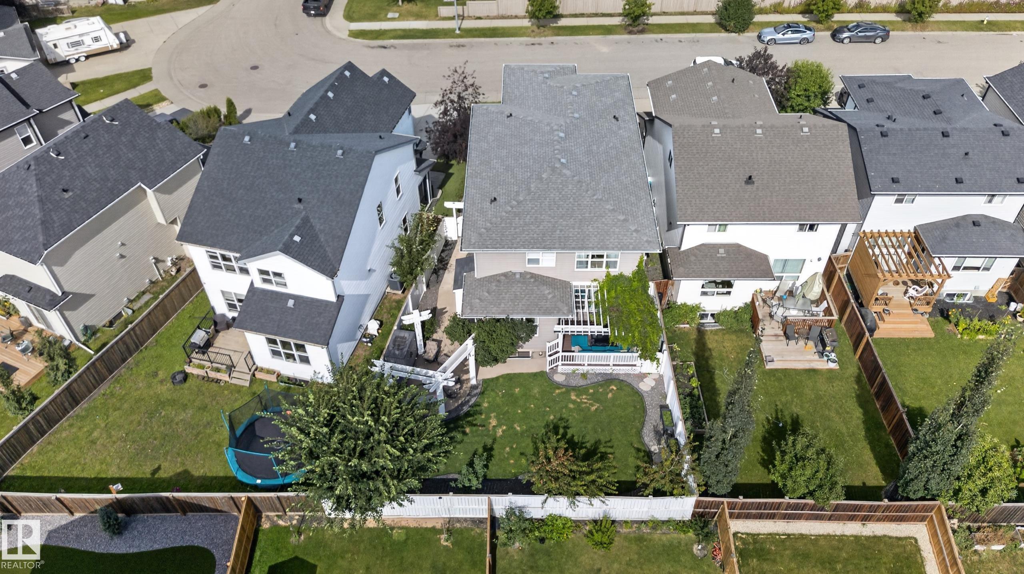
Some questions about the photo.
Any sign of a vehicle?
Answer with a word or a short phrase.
Yes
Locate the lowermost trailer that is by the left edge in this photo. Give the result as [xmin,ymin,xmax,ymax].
[36,12,137,65]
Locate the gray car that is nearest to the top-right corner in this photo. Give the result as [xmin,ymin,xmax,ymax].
[829,19,893,45]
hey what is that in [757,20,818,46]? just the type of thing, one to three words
car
